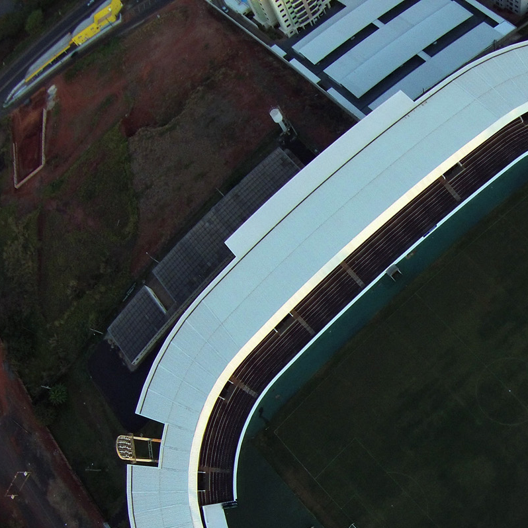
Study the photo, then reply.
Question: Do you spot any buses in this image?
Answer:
No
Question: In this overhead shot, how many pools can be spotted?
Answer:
zero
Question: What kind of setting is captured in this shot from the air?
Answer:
sports ground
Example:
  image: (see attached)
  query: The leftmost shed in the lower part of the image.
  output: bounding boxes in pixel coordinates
[107,285,183,370]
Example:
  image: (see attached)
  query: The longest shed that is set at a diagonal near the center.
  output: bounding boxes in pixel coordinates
[153,147,304,310]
